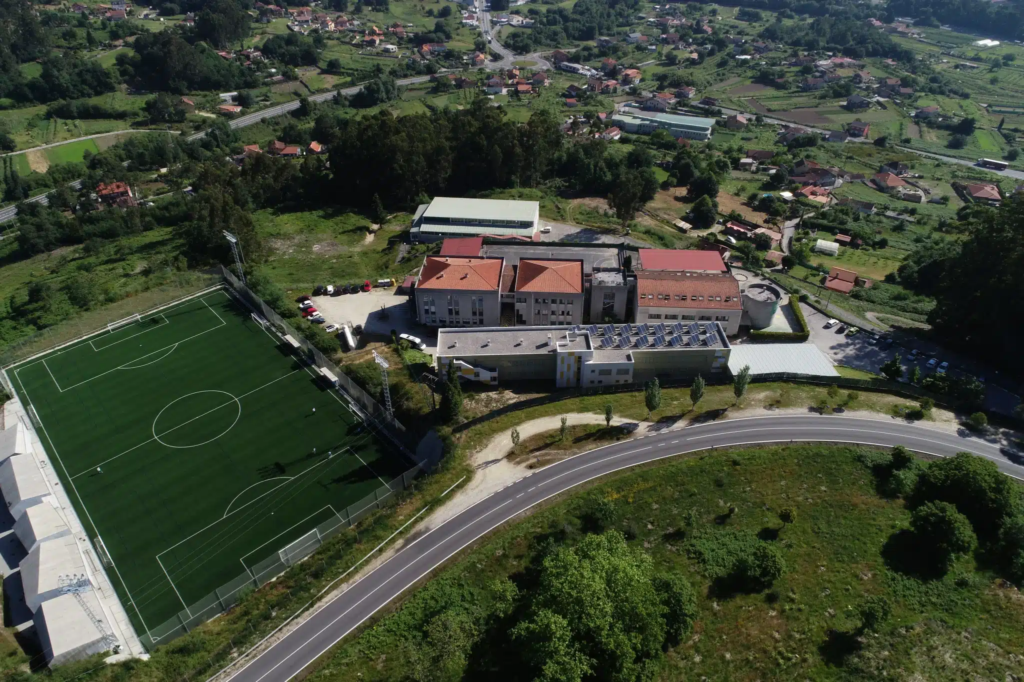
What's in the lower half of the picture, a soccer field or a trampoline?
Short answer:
soccer field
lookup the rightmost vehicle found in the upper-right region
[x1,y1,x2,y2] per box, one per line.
[979,154,1013,170]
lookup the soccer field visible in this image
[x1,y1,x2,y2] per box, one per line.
[3,282,435,660]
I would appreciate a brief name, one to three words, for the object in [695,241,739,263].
house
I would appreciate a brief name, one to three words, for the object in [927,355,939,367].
vehicle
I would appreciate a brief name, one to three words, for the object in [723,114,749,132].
house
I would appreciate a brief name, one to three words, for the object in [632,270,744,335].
building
